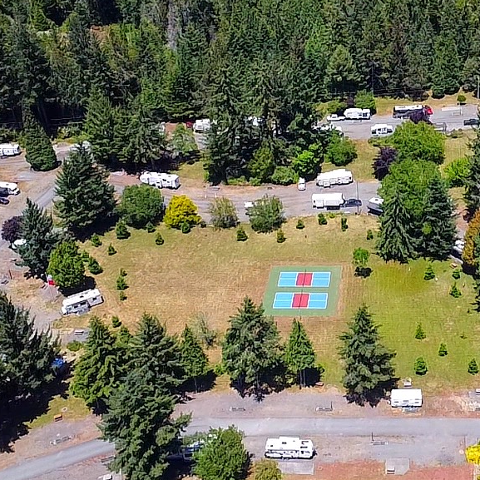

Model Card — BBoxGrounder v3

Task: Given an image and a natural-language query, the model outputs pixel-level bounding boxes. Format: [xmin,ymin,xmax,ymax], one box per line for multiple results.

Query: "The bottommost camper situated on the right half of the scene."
[265,436,316,458]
